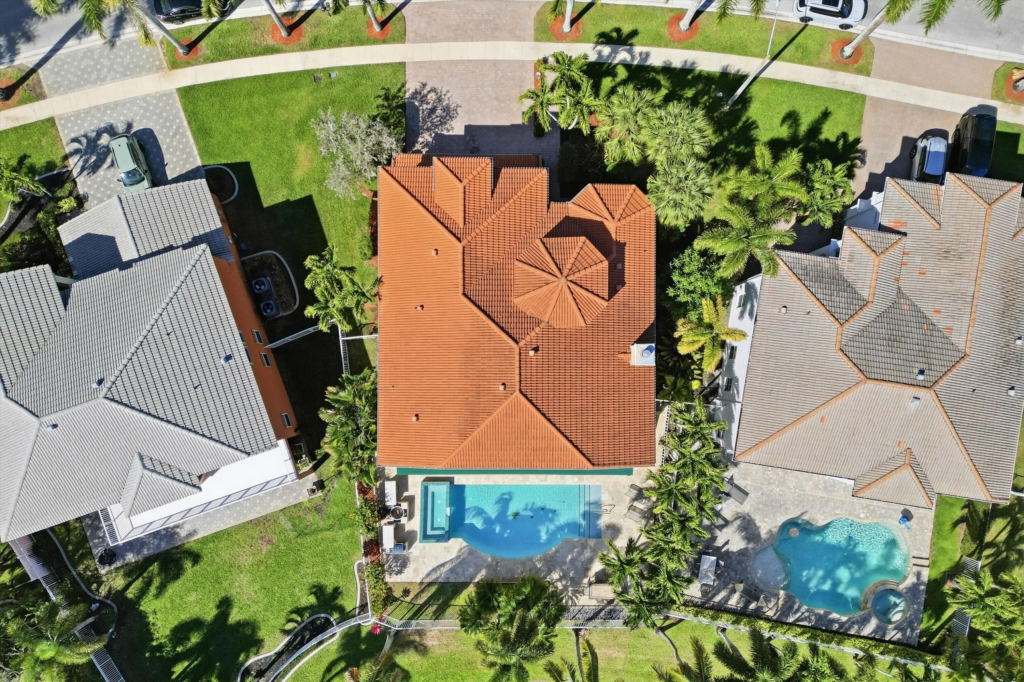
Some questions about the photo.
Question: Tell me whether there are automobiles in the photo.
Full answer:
Yes, there's an automobile down there.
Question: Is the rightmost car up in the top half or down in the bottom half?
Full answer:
The top half of the photo is where the rightmost car is.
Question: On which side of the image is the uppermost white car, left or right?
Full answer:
The uppermost white car appears in the right half of the scene.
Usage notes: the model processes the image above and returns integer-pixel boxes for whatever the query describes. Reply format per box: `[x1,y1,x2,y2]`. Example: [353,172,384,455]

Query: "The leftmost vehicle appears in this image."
[106,125,160,199]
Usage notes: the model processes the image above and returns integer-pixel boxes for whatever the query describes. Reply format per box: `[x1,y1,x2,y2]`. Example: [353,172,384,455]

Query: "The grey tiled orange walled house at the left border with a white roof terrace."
[0,178,316,548]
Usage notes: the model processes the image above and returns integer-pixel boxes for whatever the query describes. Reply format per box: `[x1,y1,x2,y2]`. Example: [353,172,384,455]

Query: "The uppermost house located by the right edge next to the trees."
[706,171,1024,510]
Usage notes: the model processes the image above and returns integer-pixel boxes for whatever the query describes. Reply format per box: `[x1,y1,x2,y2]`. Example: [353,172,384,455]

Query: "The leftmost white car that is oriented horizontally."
[791,0,863,29]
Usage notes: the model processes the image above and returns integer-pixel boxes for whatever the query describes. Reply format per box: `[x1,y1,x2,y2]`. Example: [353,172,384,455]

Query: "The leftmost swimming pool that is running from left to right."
[451,485,614,558]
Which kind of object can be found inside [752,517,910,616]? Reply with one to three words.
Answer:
swimming pool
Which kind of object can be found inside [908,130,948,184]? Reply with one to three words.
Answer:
car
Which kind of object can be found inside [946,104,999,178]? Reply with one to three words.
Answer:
car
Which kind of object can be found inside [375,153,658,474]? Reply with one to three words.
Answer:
house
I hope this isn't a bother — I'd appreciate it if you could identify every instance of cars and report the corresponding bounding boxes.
[946,104,999,178]
[160,0,238,26]
[791,0,863,29]
[908,130,948,184]
[106,125,160,199]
